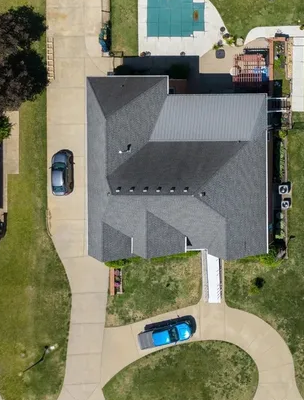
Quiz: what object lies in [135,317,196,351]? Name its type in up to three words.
truck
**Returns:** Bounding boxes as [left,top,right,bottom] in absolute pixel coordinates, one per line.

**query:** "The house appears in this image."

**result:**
[86,76,285,262]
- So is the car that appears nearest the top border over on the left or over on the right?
left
